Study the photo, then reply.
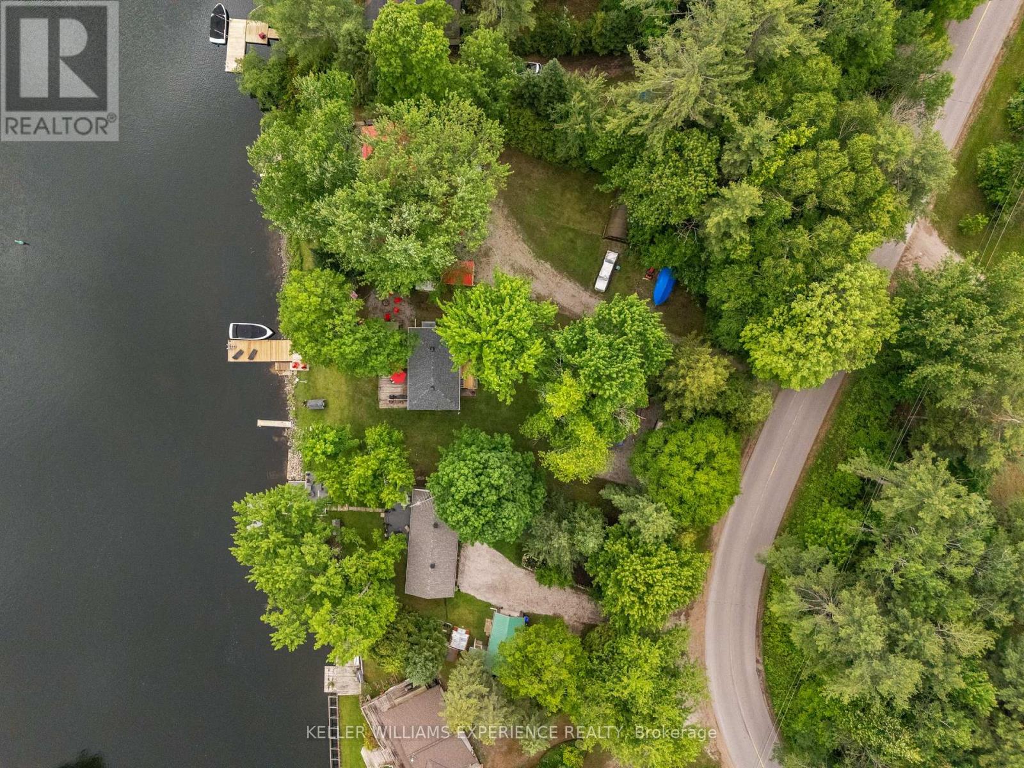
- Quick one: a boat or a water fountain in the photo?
boat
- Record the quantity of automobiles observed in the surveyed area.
2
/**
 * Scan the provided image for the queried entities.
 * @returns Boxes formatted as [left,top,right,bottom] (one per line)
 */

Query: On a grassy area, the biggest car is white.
[596,250,618,294]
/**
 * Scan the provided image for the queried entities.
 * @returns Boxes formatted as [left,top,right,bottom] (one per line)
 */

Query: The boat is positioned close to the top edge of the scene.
[210,1,228,50]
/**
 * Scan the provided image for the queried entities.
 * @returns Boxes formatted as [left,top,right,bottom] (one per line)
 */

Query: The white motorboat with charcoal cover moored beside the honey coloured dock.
[230,323,276,340]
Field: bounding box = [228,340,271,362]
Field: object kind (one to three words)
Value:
pier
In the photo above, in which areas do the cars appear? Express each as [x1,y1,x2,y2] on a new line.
[510,58,545,78]
[596,250,618,294]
